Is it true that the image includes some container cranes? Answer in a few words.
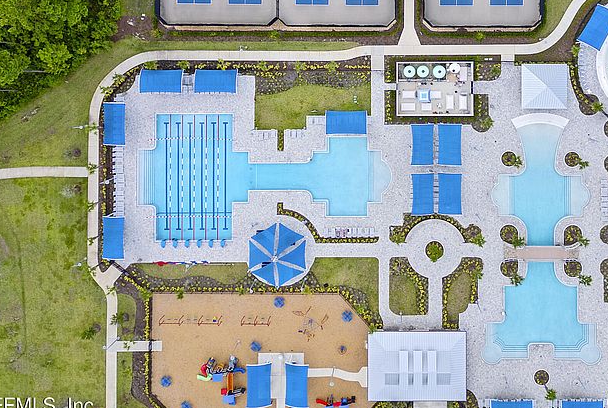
No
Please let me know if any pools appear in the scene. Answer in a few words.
Yes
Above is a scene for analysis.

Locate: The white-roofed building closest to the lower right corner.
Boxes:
[367,330,466,401]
